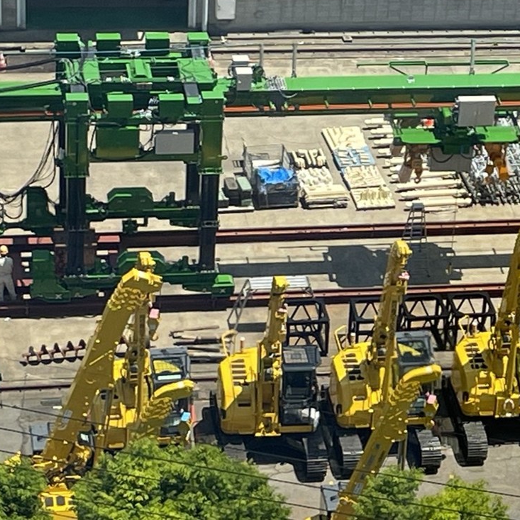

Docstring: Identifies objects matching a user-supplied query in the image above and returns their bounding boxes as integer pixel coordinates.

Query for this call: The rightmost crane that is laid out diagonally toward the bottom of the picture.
[313,364,452,520]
